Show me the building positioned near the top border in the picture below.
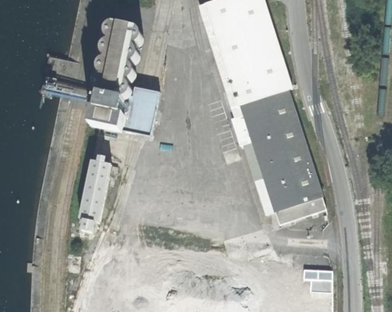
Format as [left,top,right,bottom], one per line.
[198,0,294,108]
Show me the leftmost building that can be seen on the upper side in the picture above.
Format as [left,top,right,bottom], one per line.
[84,88,130,139]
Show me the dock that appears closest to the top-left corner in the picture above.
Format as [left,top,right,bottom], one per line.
[46,54,85,82]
